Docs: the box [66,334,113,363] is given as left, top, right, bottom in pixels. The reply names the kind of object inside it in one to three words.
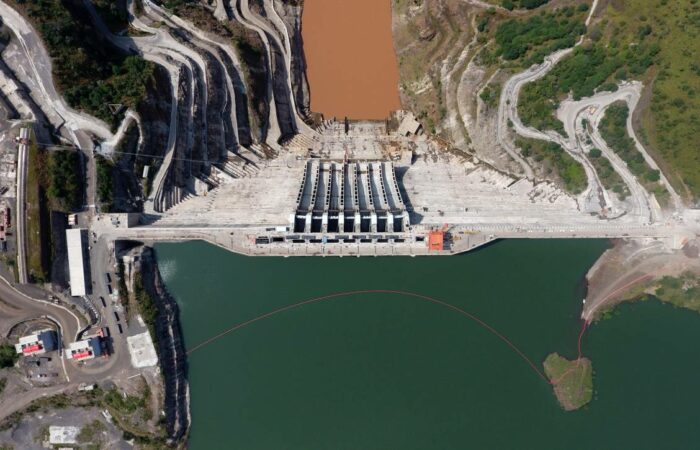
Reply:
building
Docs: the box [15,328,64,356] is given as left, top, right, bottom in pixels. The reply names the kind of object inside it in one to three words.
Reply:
building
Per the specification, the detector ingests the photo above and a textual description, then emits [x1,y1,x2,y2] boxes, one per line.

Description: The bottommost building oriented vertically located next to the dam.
[66,229,90,296]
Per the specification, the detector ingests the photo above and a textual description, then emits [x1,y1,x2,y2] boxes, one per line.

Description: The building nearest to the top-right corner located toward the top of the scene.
[397,111,422,136]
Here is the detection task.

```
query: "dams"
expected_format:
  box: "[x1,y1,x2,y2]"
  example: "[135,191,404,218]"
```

[100,116,648,257]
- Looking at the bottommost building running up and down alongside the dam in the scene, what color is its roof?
white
